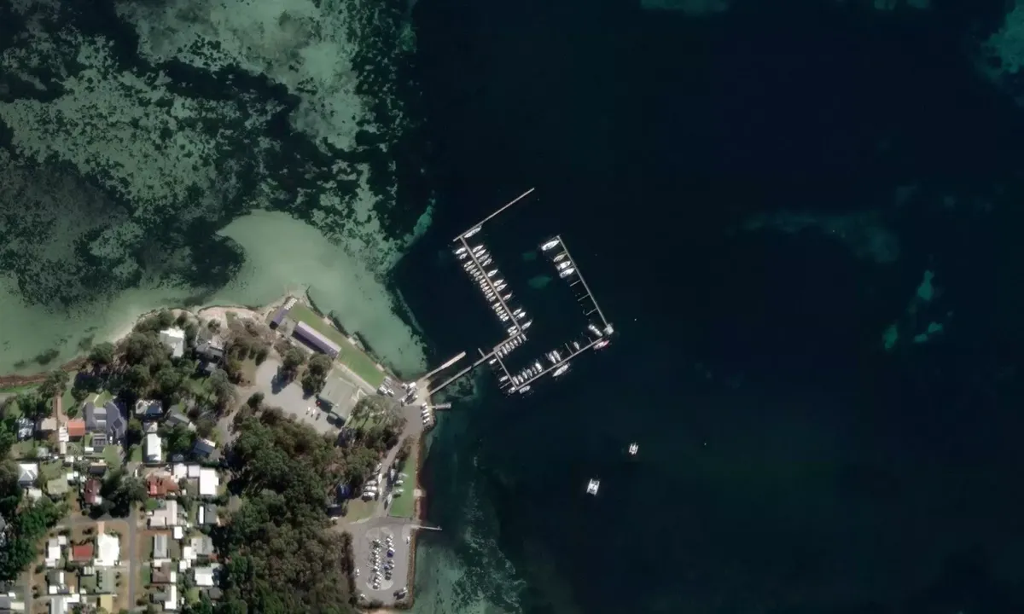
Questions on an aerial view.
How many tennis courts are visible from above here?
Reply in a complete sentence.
I count no tennis courts.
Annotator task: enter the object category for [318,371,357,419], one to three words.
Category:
building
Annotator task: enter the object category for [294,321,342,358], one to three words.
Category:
shed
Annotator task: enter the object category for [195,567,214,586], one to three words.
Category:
house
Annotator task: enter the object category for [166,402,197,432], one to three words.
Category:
house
